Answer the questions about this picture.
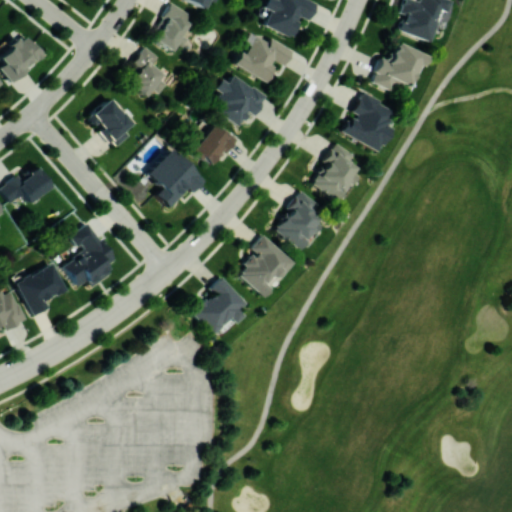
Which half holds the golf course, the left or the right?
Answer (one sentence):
The golf course appears in the right half of the scene.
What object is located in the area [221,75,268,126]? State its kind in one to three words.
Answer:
house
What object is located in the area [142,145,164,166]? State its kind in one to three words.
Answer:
swimming pool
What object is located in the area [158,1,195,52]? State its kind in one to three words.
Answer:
house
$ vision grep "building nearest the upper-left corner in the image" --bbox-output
[0,36,46,79]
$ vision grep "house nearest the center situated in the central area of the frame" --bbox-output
[237,234,296,297]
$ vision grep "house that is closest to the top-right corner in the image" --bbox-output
[402,0,454,40]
